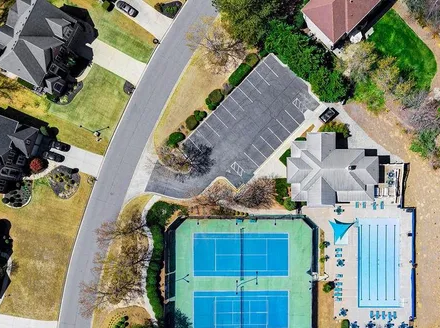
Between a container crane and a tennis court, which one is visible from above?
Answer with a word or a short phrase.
tennis court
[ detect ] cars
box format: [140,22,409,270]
[41,150,62,162]
[319,107,336,122]
[116,0,136,16]
[47,141,68,152]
